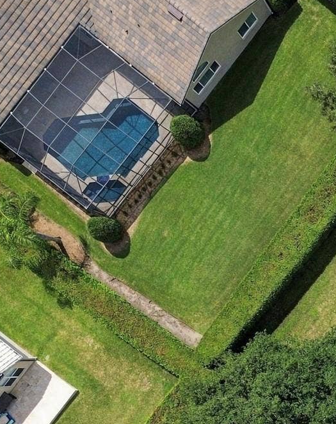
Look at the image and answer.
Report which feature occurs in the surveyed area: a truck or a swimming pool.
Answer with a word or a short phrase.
swimming pool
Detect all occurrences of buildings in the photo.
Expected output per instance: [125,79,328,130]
[0,0,274,127]
[0,333,35,397]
